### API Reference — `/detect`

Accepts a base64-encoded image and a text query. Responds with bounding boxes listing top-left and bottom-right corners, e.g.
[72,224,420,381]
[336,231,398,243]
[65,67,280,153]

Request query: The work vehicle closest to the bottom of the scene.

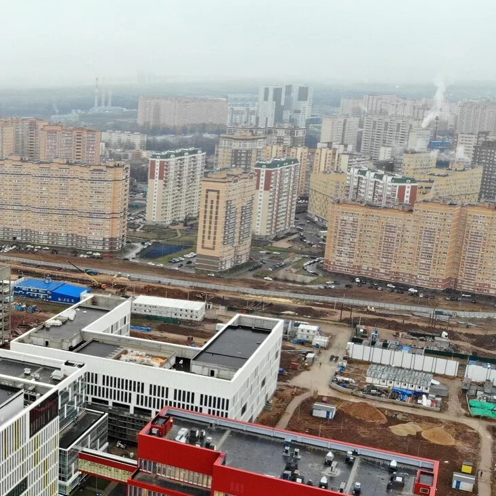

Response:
[109,439,139,454]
